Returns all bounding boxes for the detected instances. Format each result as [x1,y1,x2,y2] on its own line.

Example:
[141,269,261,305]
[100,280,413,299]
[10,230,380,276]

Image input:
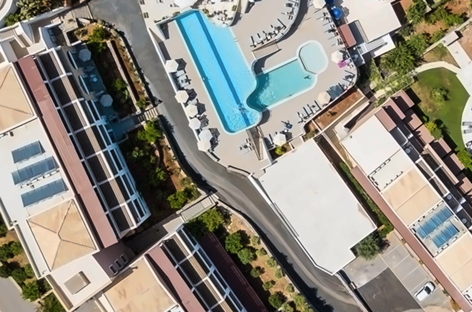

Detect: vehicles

[415,281,435,304]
